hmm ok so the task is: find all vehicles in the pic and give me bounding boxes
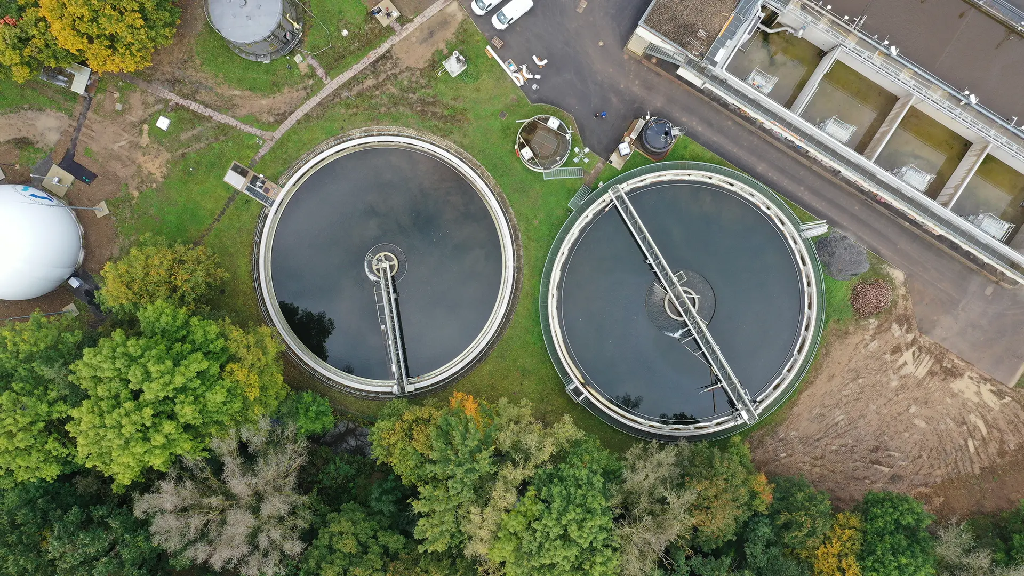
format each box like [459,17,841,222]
[471,0,500,16]
[492,0,533,32]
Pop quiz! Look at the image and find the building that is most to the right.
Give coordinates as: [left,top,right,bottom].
[625,0,742,65]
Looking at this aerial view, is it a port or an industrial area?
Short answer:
industrial area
